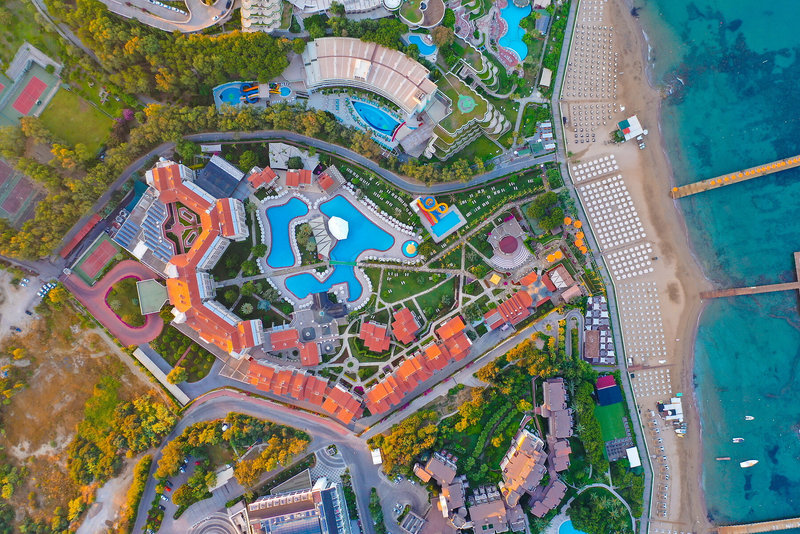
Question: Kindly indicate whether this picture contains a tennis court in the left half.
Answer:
Yes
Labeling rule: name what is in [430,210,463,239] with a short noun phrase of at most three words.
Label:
swimming pool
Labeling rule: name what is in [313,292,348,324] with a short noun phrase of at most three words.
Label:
building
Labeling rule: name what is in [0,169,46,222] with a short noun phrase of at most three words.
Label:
tennis court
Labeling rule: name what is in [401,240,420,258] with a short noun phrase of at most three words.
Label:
swimming pool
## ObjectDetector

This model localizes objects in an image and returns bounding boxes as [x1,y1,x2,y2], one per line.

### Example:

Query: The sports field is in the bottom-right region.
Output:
[600,402,628,442]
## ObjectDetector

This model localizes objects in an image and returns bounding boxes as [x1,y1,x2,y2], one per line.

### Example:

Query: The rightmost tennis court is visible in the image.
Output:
[72,233,122,286]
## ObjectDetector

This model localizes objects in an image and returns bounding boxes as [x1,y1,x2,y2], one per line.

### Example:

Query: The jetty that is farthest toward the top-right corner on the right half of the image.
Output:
[671,155,800,199]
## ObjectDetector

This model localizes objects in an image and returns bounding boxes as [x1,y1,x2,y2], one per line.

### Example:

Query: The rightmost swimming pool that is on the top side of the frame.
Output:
[498,0,533,62]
